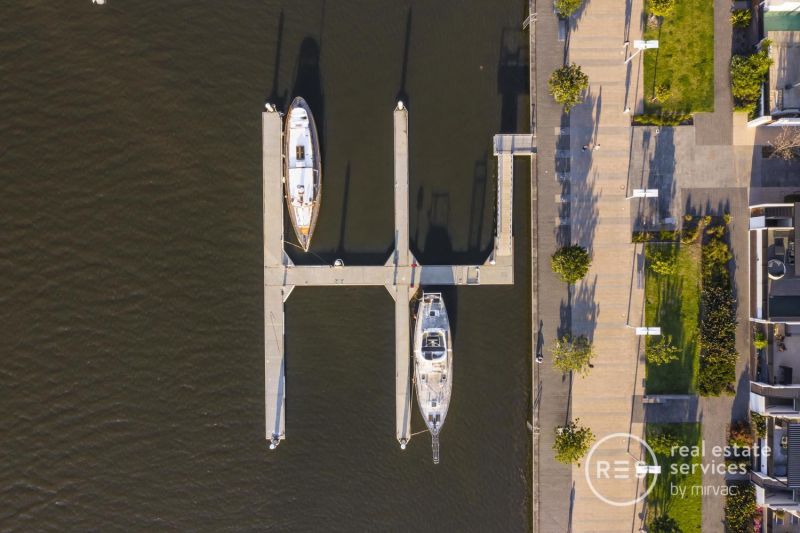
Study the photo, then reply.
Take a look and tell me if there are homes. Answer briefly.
Yes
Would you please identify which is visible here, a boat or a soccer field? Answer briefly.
boat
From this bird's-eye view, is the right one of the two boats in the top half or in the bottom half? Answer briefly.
bottom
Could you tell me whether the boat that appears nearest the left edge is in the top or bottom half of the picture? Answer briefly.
top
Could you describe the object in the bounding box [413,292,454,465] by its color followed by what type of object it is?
white boat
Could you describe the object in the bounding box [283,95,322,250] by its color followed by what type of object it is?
white boat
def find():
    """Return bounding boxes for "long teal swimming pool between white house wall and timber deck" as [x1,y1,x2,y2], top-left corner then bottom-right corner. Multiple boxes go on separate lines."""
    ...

[764,11,800,32]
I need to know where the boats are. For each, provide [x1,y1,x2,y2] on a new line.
[283,95,322,250]
[413,292,454,465]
